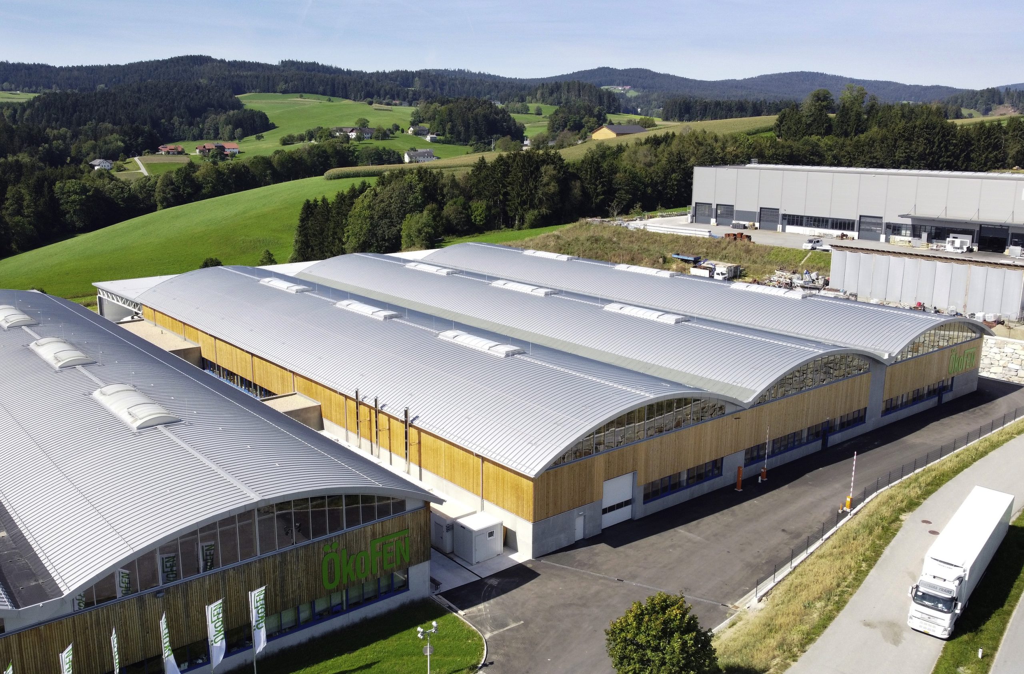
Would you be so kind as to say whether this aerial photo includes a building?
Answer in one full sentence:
Yes, the photo shows a building.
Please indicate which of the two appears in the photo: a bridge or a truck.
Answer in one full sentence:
It is a truck that can be seen here.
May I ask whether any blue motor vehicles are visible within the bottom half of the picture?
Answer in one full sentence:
No, I see no blue motor vehicle within the bottom half of the picture.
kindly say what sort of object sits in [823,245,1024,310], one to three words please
shed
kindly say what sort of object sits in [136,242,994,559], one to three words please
building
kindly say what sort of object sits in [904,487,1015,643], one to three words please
truck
